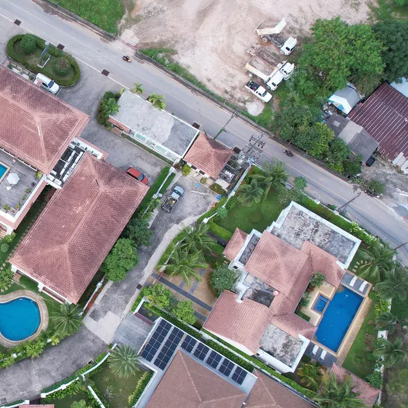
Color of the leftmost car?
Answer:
white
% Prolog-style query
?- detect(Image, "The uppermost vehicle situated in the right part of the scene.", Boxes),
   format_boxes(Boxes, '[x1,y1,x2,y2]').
[256,22,300,58]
